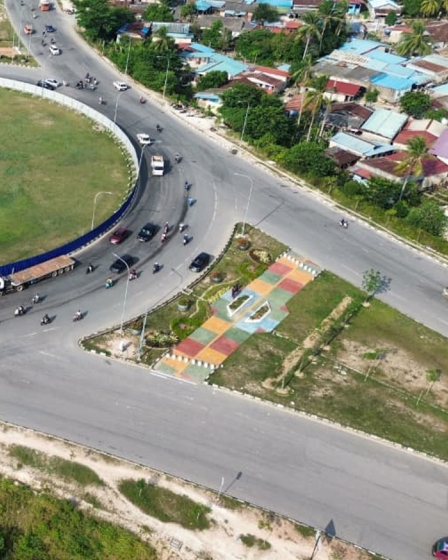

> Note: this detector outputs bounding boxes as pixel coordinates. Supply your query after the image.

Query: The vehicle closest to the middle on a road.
[187,253,213,271]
